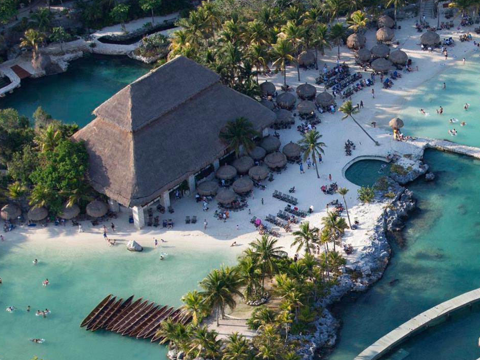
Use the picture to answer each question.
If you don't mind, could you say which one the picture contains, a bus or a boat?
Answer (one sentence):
I can see a boat in this picture.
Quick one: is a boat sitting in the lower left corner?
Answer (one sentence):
Yes, a boat is visible in the lower left corner.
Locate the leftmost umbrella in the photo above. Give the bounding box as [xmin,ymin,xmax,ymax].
[0,205,23,226]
